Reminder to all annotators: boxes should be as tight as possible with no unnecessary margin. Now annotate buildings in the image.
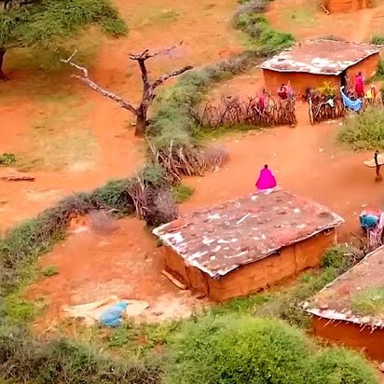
[154,193,346,305]
[257,41,384,102]
[298,248,384,356]
[327,0,374,16]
